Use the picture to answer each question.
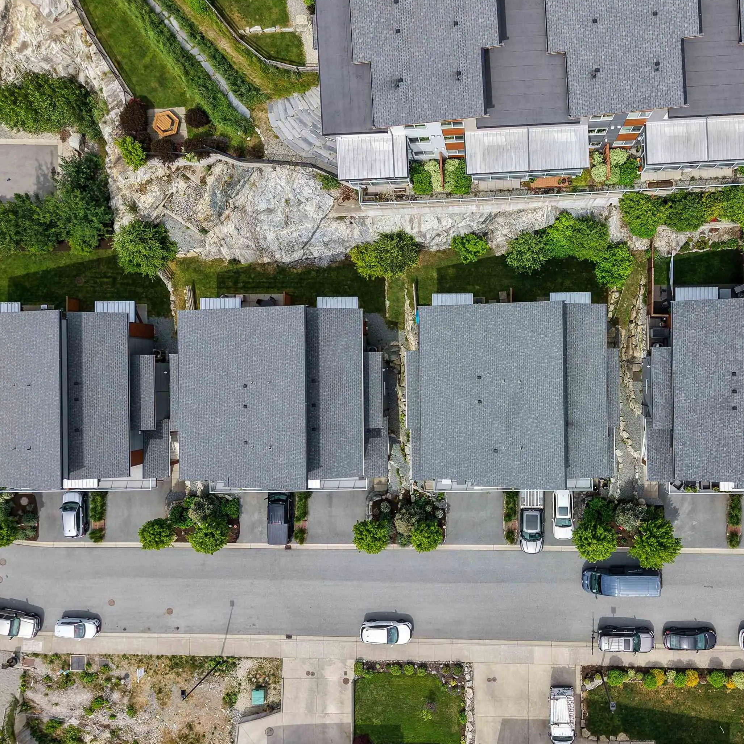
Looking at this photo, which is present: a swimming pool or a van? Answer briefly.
van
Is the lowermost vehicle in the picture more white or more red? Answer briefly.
white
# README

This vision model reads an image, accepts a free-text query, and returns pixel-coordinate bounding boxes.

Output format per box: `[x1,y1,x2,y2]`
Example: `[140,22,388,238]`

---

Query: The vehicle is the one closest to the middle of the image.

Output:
[268,489,296,546]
